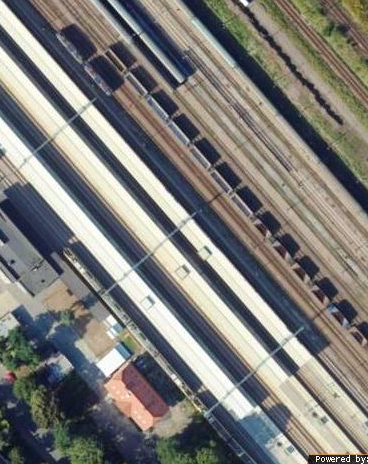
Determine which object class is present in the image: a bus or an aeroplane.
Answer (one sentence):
Visible in the photo is a bus.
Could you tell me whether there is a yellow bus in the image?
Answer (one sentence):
No, no yellow bus can be seen from above.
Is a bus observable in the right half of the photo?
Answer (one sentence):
Yes, in the right half of the photo there is a bus.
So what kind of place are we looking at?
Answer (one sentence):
What you see here is a rail yard.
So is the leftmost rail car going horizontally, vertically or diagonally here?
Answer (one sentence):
The leftmost rail car has been laid out diagonally relative to the frame.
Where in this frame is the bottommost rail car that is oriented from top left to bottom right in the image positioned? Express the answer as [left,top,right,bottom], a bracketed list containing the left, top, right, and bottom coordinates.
[350,326,368,349]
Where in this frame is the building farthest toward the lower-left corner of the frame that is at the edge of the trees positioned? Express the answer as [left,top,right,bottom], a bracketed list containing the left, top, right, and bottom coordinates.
[42,354,75,379]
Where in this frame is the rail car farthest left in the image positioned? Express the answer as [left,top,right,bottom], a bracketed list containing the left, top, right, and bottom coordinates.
[61,35,89,66]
